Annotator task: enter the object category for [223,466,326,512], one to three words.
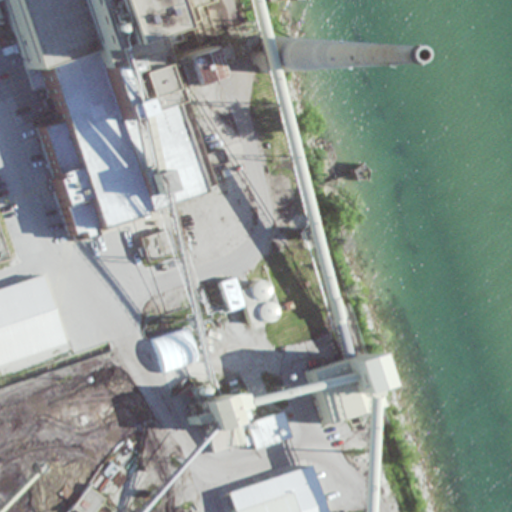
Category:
building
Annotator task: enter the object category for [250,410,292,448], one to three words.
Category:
building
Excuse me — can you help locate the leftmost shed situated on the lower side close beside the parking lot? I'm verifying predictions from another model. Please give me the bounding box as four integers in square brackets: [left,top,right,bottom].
[0,276,70,364]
